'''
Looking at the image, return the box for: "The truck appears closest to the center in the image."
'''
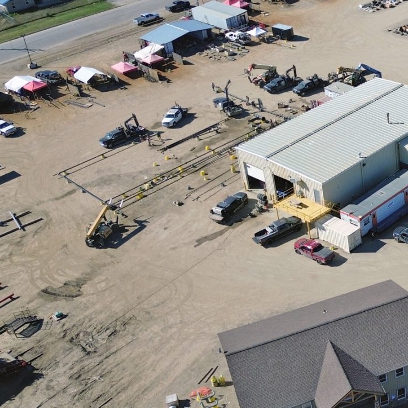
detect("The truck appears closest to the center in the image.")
[206,194,252,220]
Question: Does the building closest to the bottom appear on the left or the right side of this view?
right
